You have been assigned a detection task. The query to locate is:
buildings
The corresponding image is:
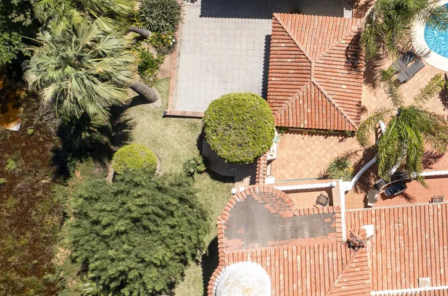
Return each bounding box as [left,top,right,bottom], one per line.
[264,10,366,134]
[206,185,448,296]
